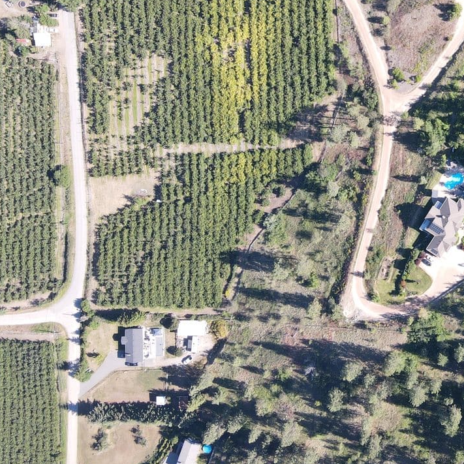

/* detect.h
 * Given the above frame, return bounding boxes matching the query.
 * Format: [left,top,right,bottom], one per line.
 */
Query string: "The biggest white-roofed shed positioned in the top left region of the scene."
[33,32,55,47]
